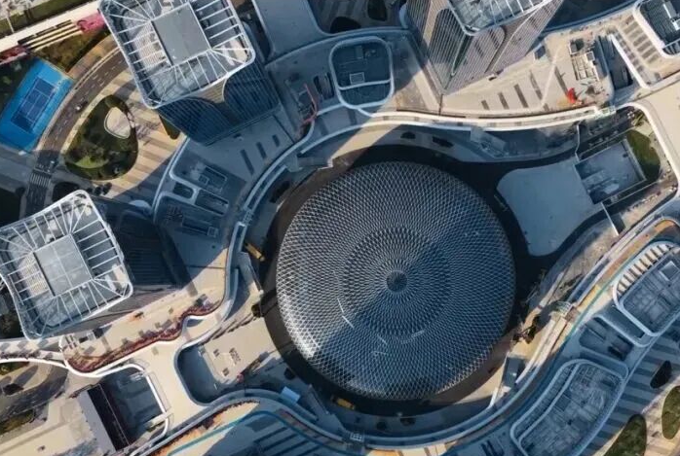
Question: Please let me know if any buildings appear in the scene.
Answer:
Yes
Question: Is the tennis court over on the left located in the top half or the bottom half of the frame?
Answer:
top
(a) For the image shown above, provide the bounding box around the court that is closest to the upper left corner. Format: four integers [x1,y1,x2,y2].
[0,59,74,151]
